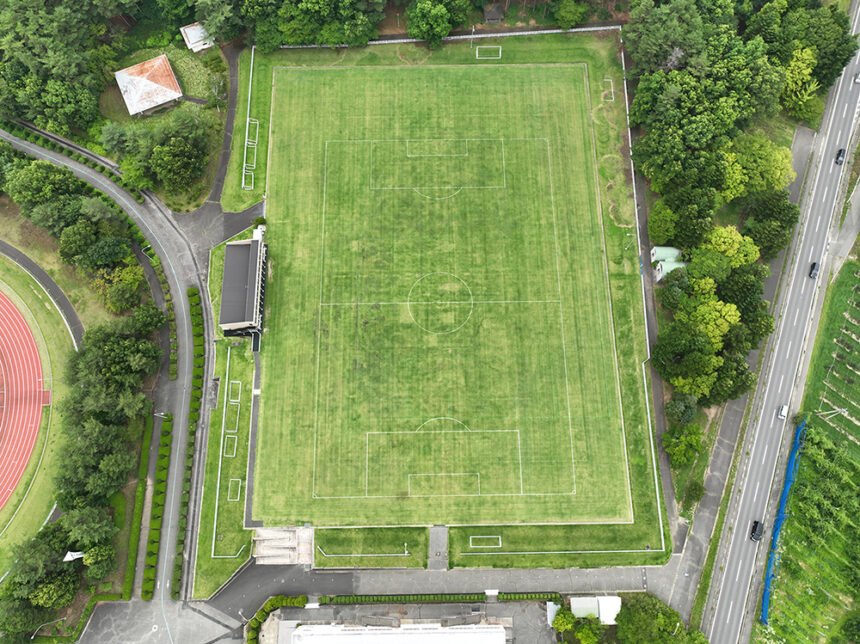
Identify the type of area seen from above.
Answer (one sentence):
The area seen from above is a sports ground.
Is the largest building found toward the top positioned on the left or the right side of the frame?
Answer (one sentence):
It is on the left.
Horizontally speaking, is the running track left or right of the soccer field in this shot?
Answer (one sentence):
Compared with the soccer field, the running track is located further to the left.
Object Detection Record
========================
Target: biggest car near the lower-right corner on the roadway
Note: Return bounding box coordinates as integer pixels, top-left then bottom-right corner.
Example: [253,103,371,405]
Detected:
[749,521,763,542]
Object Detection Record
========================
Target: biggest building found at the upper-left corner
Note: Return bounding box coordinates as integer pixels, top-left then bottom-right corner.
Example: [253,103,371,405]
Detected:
[115,55,182,118]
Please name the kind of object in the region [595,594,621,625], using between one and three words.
shed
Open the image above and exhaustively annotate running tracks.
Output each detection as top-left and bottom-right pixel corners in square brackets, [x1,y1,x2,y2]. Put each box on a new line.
[0,240,88,573]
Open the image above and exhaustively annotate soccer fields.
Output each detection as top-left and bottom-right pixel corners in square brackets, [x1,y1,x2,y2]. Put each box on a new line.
[246,64,634,527]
